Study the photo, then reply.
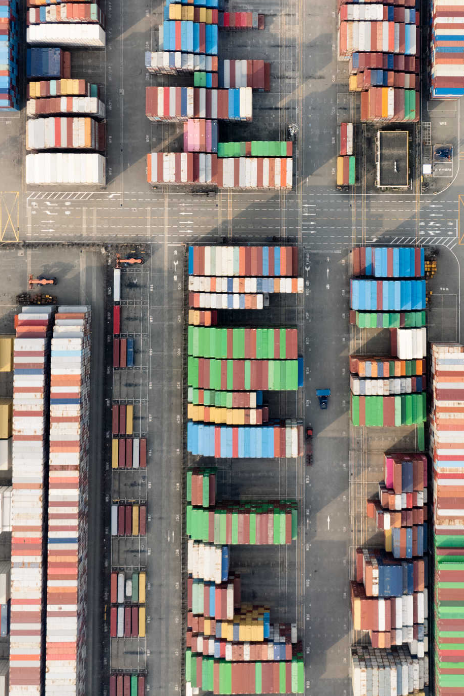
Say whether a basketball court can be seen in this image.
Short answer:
No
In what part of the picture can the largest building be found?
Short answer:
top right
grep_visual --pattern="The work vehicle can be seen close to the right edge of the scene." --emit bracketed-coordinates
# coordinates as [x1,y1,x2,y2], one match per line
[435,147,455,159]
